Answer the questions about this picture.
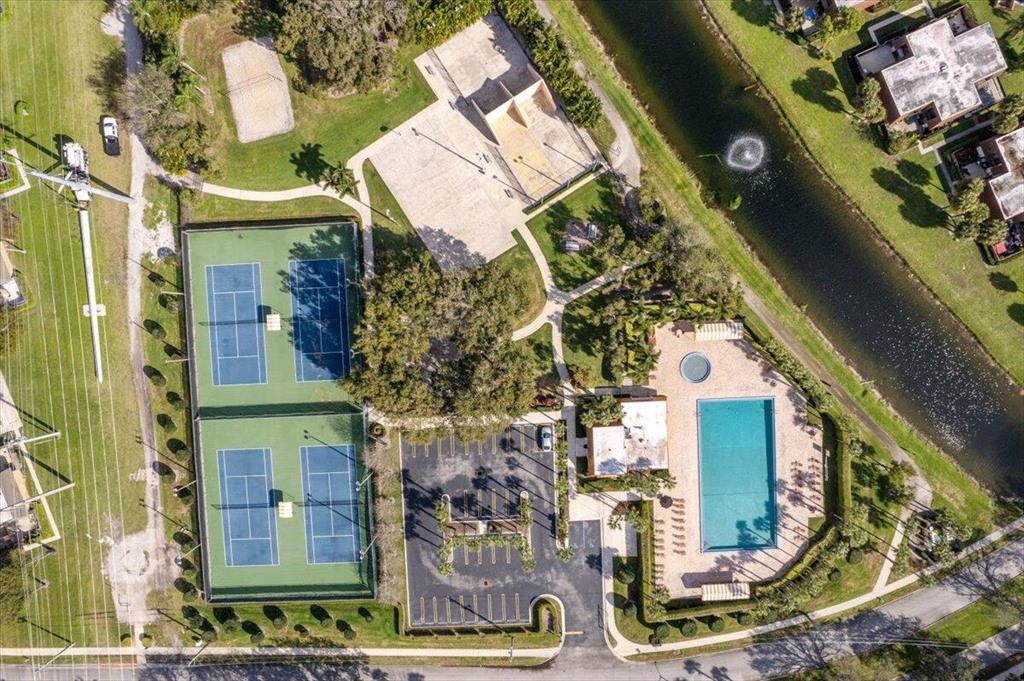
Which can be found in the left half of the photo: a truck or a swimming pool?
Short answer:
truck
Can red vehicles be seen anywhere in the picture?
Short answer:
No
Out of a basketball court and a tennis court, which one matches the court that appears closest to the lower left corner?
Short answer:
tennis court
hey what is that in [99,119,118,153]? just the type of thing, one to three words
vehicle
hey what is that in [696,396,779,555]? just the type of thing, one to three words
swimming pool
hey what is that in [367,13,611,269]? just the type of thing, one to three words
sports court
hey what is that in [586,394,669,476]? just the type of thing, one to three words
building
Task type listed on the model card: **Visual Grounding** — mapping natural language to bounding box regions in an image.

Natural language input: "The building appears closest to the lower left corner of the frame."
[0,442,40,509]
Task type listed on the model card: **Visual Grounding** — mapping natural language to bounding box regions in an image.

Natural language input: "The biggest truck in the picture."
[55,141,89,204]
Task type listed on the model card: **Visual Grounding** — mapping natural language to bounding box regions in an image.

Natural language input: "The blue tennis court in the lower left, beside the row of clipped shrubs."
[214,447,279,567]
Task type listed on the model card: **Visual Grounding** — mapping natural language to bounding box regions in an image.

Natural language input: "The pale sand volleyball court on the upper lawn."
[223,41,293,141]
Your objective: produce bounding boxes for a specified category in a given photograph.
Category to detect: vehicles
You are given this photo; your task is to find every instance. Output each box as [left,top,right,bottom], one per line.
[55,141,89,204]
[99,119,118,153]
[541,427,551,450]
